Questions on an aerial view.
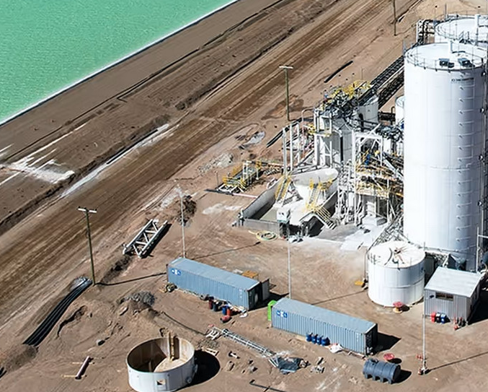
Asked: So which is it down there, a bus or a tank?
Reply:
tank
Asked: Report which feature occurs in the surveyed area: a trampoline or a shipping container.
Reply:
shipping container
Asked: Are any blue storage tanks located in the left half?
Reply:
No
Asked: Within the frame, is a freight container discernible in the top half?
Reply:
No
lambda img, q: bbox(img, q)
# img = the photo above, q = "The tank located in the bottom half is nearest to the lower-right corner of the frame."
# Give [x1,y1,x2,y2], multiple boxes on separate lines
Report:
[365,355,402,383]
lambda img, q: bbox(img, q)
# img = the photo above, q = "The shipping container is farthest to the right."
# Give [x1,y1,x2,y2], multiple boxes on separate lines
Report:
[270,296,374,355]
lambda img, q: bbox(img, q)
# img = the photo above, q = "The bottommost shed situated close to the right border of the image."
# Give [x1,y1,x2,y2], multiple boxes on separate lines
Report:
[424,266,480,327]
